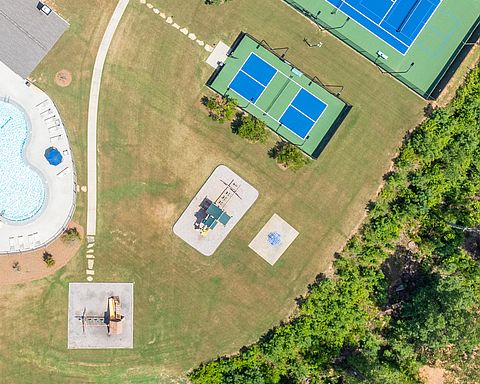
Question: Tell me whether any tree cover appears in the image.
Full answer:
Yes, there is tree cover in the image.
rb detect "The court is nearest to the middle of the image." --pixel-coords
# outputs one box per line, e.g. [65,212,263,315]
[209,37,351,156]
